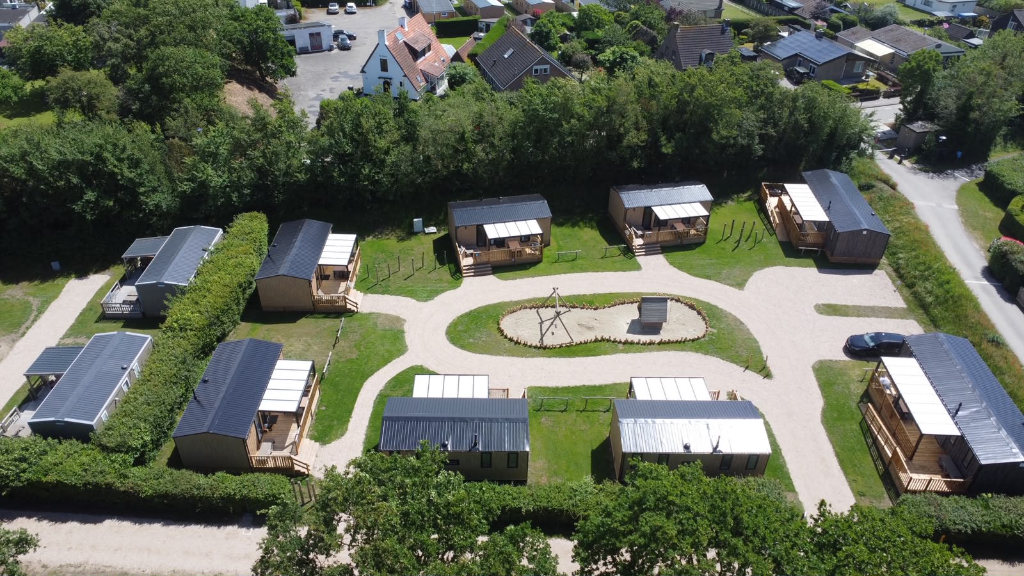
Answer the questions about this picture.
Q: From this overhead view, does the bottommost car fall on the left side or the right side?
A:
right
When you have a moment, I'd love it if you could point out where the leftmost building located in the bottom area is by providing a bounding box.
[0,330,159,456]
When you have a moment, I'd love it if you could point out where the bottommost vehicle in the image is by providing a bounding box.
[842,327,909,357]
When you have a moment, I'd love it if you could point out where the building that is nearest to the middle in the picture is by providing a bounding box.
[448,191,553,276]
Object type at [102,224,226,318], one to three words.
house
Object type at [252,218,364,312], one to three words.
building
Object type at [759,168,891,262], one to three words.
building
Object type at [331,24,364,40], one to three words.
car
